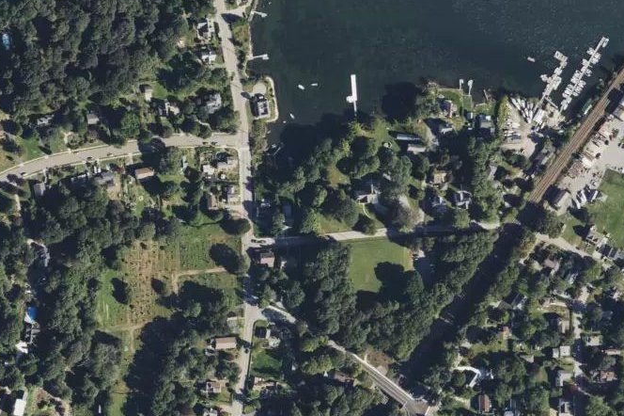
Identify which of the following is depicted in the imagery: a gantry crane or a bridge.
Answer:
bridge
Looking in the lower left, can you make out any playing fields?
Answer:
No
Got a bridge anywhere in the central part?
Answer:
No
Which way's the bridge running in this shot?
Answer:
diagonally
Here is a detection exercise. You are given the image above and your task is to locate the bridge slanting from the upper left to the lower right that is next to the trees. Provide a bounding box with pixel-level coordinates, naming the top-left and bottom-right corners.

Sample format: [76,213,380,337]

[369,366,419,406]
